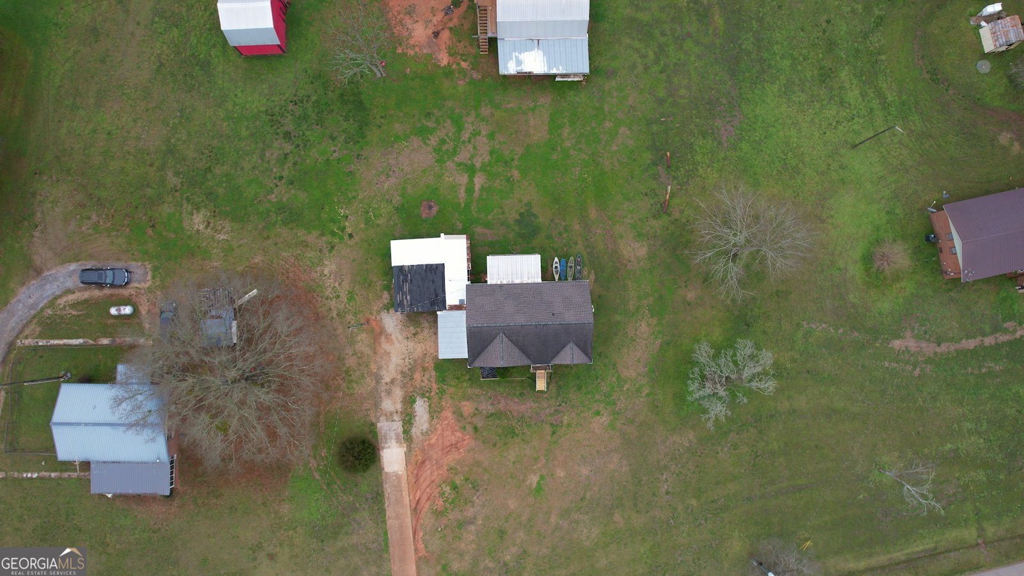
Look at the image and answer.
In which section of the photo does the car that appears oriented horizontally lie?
left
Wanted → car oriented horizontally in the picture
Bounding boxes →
[78,266,133,288]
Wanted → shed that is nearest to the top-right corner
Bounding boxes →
[980,15,1024,53]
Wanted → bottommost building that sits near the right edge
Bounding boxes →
[942,190,1024,282]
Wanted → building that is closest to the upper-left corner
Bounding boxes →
[215,0,291,53]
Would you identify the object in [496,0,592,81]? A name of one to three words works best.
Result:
house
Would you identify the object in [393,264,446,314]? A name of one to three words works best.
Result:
shed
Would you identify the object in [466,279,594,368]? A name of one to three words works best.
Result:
house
